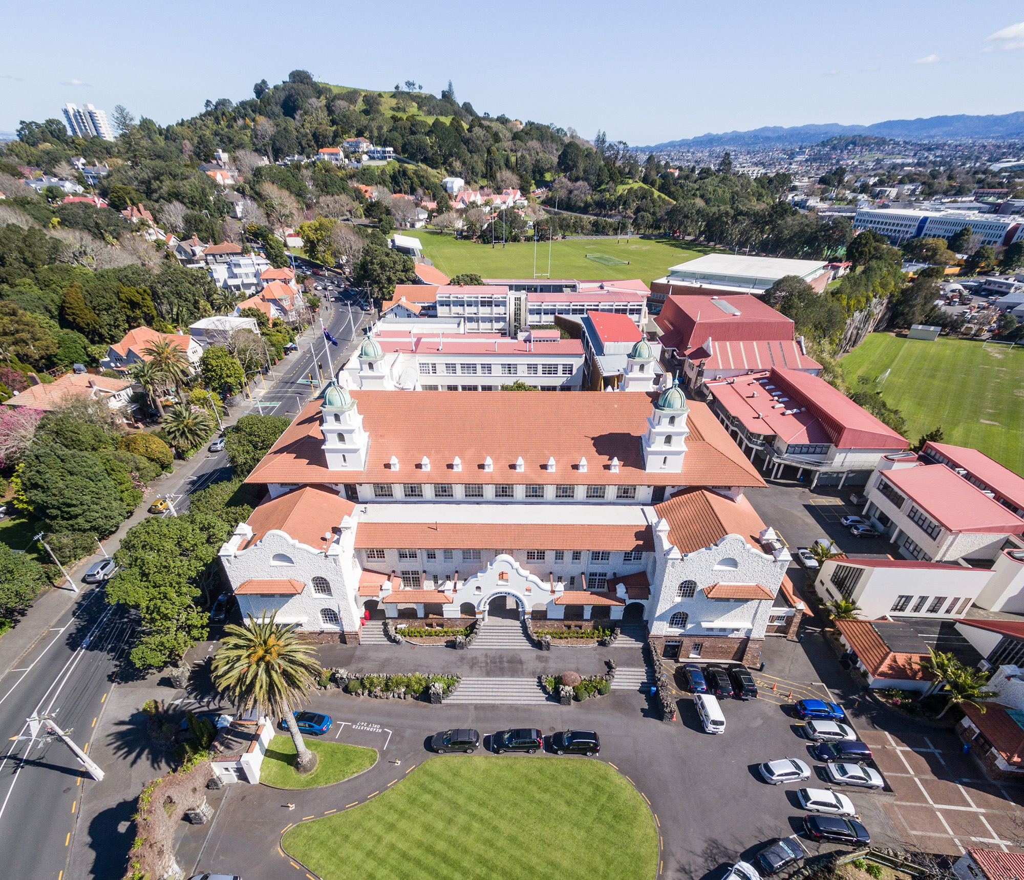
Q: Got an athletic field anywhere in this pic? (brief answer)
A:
Yes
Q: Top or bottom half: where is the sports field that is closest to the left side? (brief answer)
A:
top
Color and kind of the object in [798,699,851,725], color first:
blue car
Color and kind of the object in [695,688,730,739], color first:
white vehicle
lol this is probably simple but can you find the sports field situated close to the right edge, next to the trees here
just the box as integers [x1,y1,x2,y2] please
[840,333,1024,460]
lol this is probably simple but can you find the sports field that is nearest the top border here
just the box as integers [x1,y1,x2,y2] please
[361,227,736,289]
